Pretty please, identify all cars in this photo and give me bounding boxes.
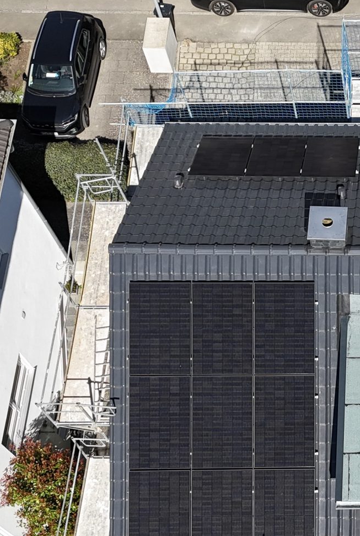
[188,0,351,18]
[14,2,104,147]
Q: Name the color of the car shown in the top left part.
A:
black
